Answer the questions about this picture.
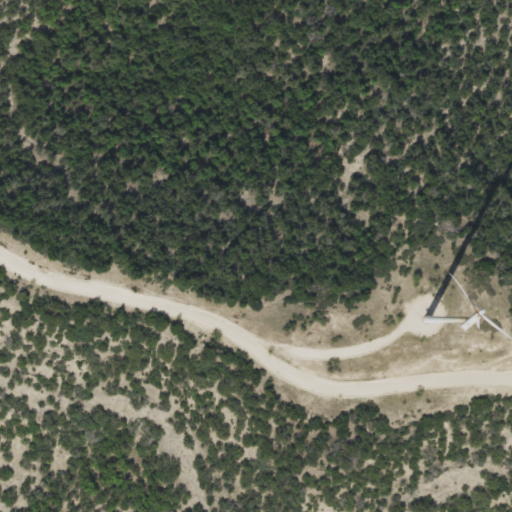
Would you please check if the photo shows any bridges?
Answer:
No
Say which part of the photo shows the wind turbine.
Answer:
right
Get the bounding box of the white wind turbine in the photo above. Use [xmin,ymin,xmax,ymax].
[424,268,512,340]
